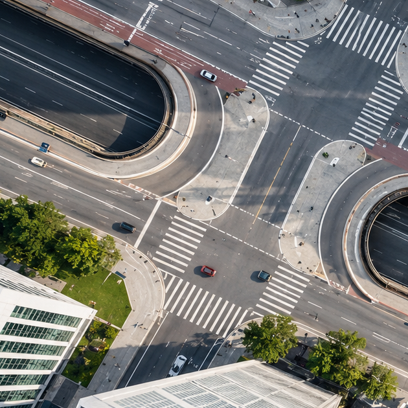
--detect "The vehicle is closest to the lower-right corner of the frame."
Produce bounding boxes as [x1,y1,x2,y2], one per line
[254,270,274,283]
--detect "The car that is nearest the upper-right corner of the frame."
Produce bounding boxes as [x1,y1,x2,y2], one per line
[199,69,218,83]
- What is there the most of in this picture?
paved ground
